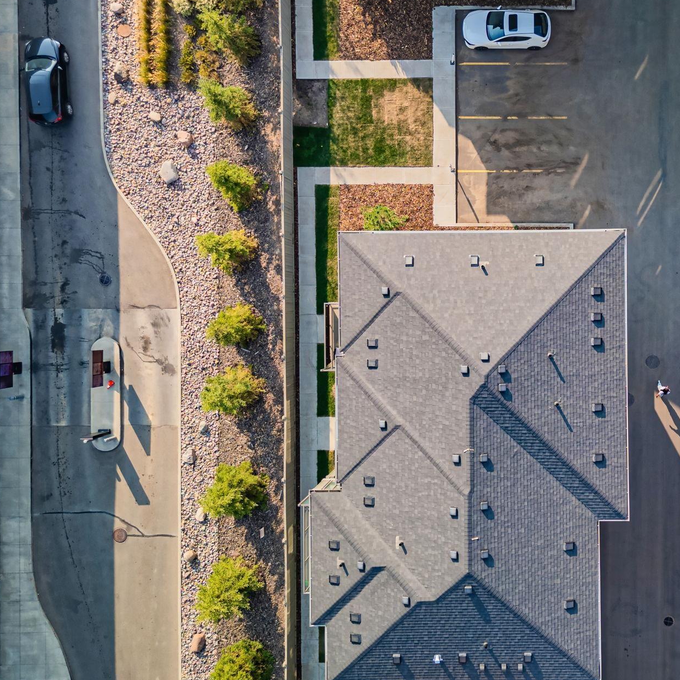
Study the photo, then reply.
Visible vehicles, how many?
2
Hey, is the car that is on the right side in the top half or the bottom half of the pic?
top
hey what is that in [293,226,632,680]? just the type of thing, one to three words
house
